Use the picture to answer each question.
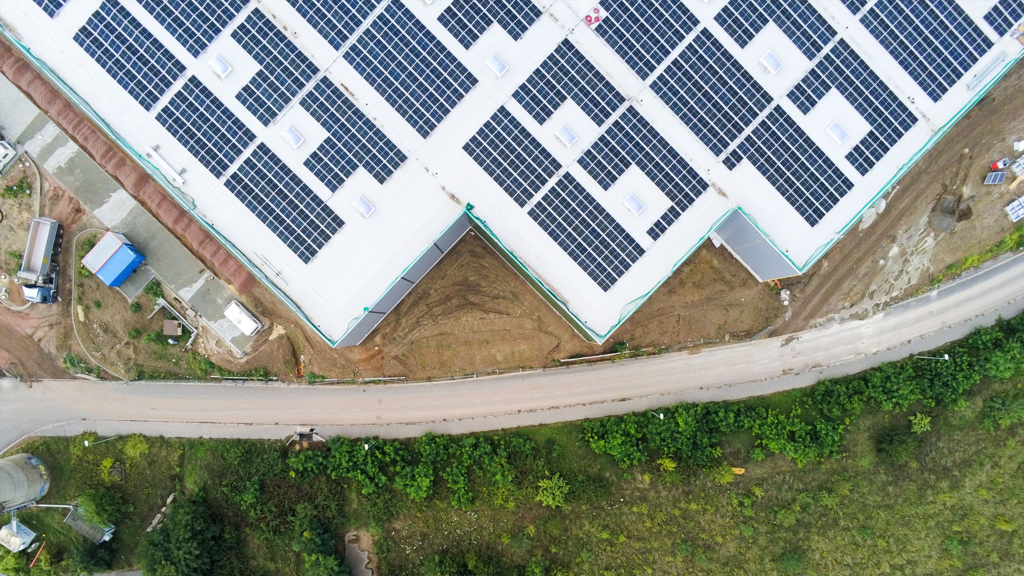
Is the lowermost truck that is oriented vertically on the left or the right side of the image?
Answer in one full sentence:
The lowermost truck that is oriented vertically appears in the left half of the scene.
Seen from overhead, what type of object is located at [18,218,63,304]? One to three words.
truck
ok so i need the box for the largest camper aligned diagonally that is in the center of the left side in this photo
[226,303,262,336]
